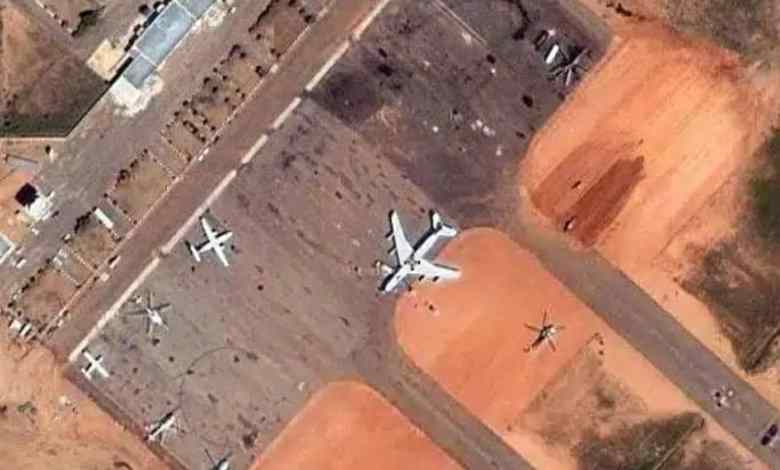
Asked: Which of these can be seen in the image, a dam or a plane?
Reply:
plane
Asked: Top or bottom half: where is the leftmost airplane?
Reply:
bottom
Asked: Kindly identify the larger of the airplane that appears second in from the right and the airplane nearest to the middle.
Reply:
the airplane nearest to the middle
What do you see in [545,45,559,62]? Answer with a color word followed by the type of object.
white vehicle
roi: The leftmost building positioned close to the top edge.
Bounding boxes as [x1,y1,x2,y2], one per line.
[124,0,211,88]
